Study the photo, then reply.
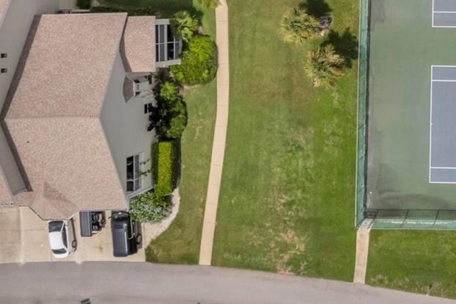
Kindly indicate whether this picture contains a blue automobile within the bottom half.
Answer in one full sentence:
No, no blue automobile is visible within the bottom half.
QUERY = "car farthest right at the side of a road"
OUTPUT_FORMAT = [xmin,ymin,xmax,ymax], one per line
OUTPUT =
[110,205,141,257]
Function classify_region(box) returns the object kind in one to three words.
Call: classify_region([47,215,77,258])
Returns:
car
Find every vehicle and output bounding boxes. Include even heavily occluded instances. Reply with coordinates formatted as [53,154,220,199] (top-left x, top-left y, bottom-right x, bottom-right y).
[79,211,104,237]
[47,215,77,258]
[110,205,141,257]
